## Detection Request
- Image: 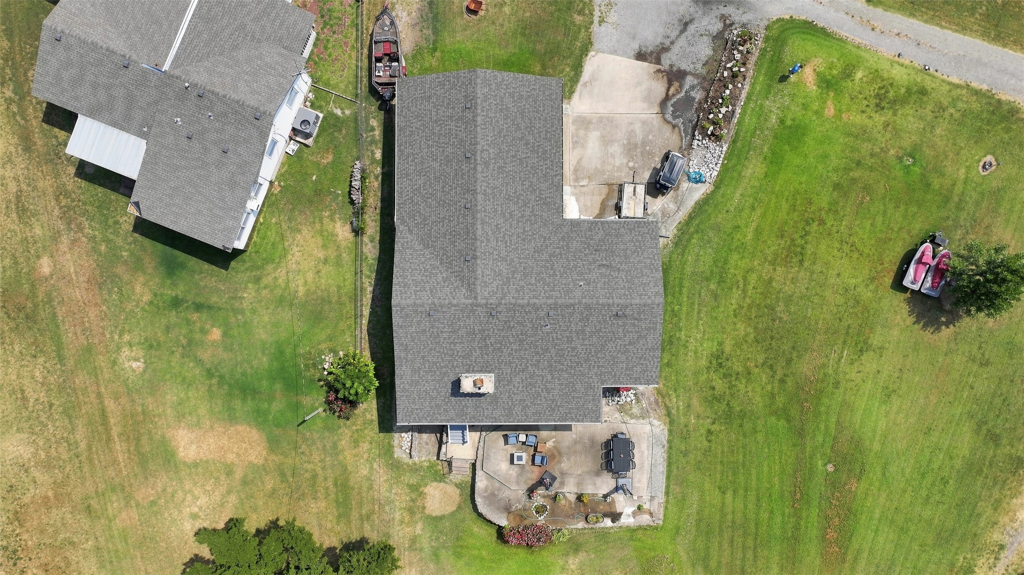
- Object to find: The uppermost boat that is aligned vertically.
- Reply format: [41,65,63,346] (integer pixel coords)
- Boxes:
[372,6,402,110]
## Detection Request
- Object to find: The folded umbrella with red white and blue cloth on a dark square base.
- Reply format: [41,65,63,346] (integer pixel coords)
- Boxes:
[540,470,558,491]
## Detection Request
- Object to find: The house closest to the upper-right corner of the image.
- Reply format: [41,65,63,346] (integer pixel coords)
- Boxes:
[391,69,665,426]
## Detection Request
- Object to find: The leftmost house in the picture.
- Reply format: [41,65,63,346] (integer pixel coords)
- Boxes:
[27,0,329,254]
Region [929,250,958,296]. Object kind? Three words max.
vessel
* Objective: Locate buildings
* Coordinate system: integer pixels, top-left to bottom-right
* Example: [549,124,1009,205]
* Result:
[27,0,329,254]
[391,69,665,426]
